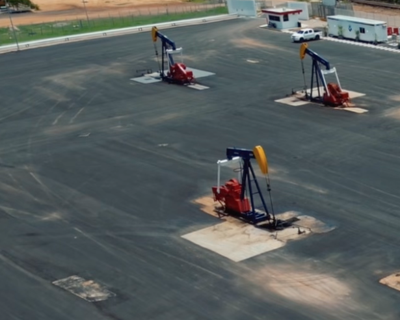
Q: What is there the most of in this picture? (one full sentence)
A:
The bulk of the photo consists of paved ground.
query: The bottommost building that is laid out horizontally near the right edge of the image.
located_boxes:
[323,16,387,44]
